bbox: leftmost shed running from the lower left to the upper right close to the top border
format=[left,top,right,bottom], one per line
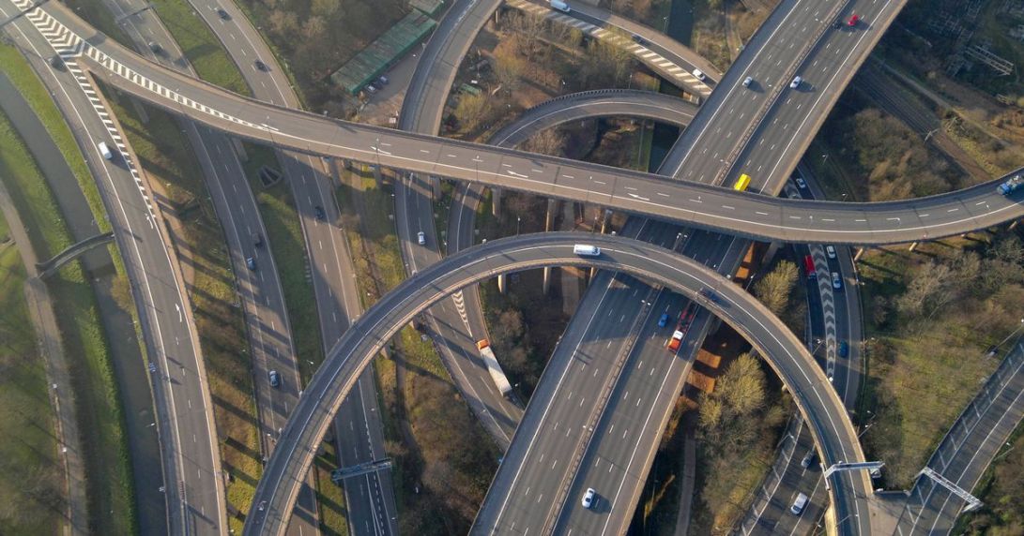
[330,10,436,97]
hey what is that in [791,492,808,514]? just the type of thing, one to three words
vehicle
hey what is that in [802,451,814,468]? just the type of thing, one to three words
vehicle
